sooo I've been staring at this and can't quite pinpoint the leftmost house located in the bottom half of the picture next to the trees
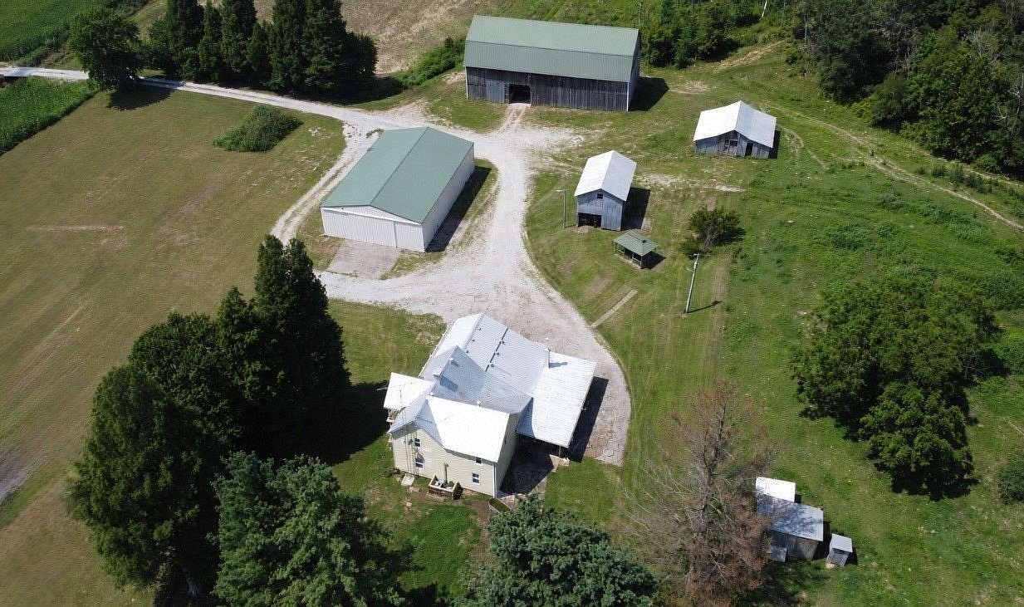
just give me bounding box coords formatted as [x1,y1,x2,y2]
[377,313,599,494]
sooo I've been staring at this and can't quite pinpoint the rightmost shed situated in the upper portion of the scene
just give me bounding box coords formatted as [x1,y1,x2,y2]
[695,101,774,159]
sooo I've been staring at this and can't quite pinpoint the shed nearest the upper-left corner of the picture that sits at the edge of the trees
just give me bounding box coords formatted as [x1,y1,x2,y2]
[318,125,476,251]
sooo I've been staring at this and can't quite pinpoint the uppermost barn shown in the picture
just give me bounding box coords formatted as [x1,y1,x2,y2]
[462,14,644,113]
